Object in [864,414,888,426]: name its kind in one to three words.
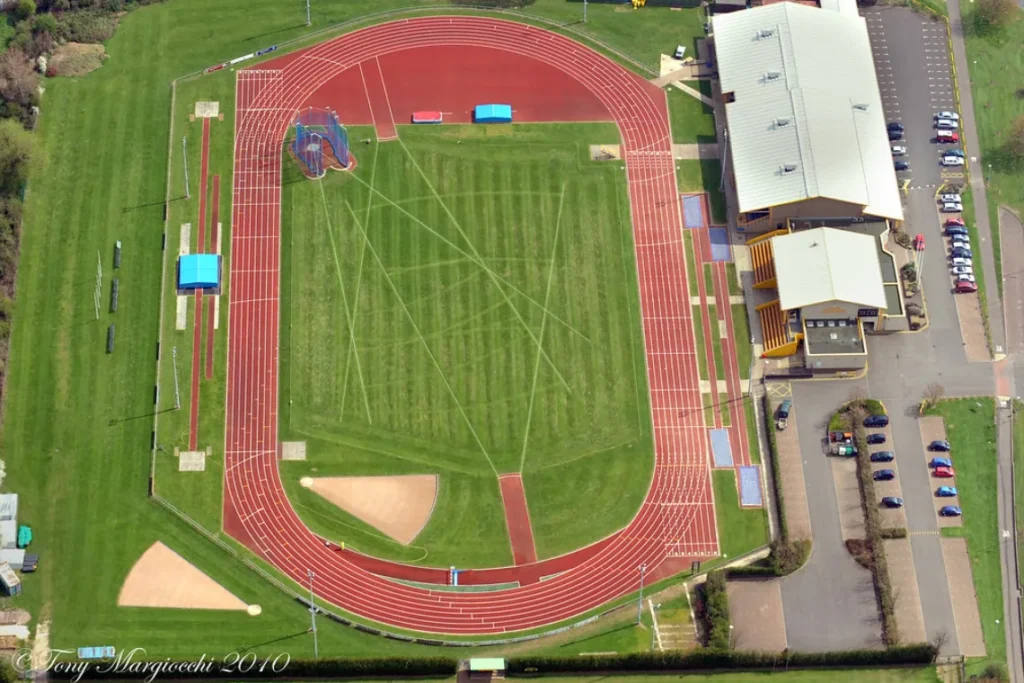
vehicle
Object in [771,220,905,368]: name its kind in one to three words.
building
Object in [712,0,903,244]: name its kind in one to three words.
building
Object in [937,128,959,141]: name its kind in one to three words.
vehicle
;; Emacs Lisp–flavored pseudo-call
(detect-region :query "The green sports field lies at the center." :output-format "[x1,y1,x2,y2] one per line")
[279,122,655,569]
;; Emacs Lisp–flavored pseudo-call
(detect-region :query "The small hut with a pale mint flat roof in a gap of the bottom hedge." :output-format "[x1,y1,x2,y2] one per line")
[470,658,504,680]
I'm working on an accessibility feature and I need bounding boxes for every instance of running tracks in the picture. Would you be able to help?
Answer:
[220,14,720,634]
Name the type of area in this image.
sports ground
